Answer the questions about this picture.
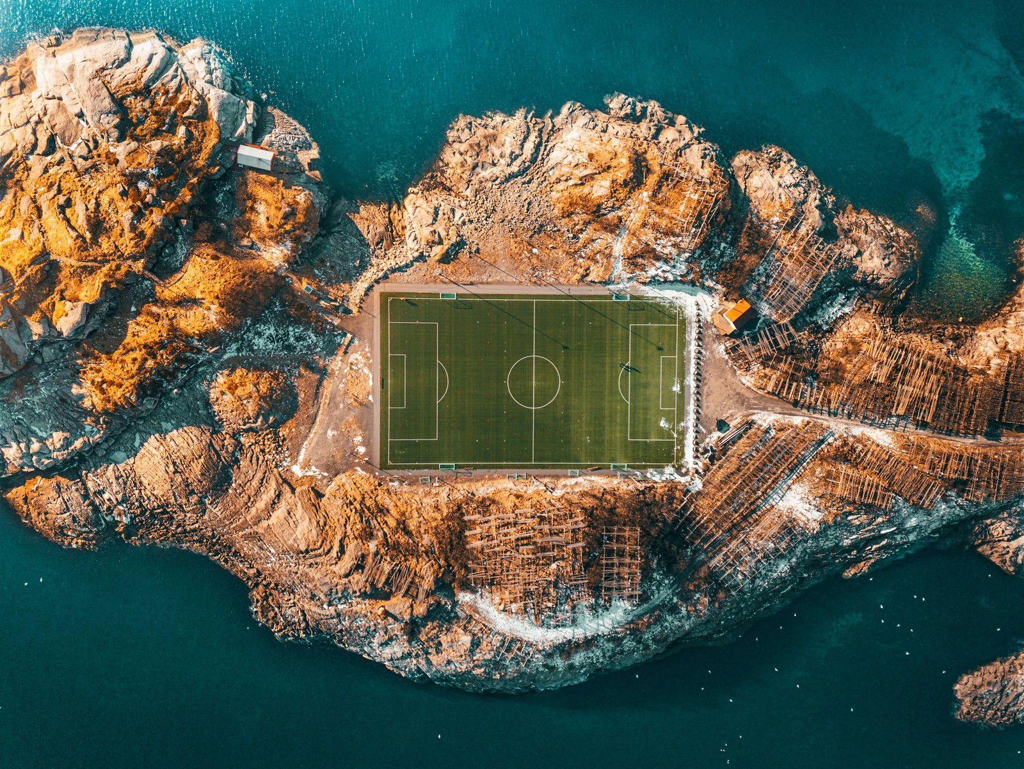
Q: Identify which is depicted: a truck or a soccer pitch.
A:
soccer pitch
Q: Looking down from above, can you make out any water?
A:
Yes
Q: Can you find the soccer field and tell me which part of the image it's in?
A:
center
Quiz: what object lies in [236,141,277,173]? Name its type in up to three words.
shed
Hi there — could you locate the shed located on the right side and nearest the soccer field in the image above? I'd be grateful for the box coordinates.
[710,297,754,337]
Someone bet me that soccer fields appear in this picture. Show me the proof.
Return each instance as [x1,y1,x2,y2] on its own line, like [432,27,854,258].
[380,292,685,470]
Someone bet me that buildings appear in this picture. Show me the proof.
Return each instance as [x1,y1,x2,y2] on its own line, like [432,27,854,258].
[236,141,277,173]
[710,297,754,337]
